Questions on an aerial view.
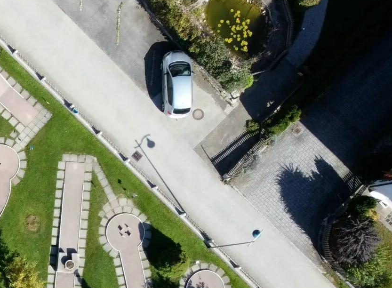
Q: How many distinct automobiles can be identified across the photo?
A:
1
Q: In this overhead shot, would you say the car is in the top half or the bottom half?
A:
top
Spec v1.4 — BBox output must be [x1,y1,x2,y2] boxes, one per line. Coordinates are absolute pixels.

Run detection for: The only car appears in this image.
[158,55,195,120]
